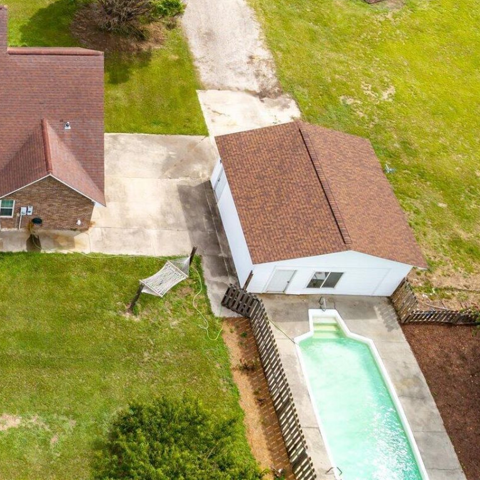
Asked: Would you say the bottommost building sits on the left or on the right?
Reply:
right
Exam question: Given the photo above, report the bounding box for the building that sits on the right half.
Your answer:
[215,122,428,297]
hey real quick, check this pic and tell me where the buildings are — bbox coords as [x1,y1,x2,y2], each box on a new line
[0,6,107,231]
[215,122,428,297]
